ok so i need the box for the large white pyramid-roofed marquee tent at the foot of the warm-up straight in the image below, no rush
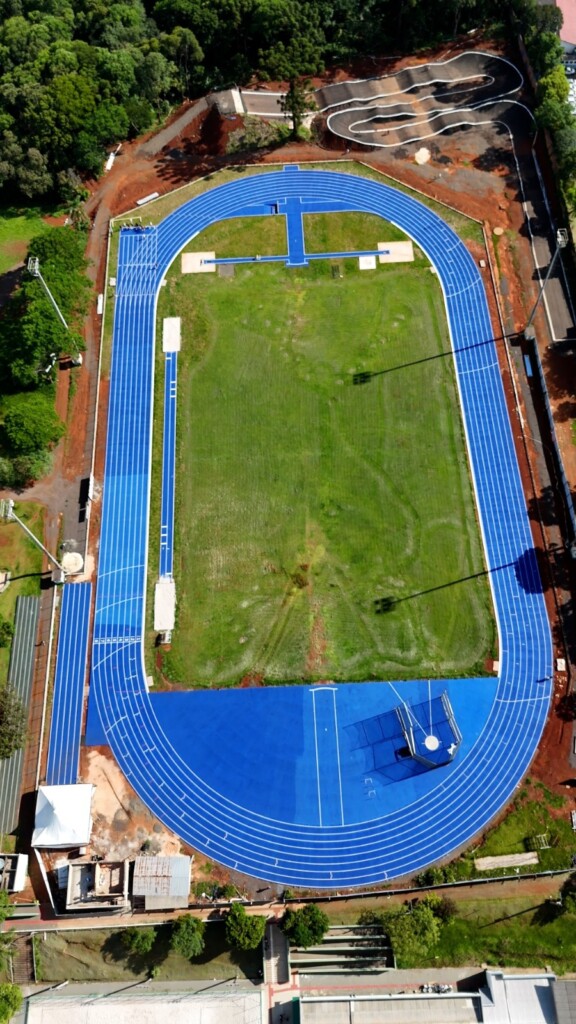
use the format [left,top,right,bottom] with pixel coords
[32,784,97,849]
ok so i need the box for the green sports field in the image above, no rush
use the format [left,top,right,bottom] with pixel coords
[146,209,499,693]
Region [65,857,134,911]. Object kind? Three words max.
building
